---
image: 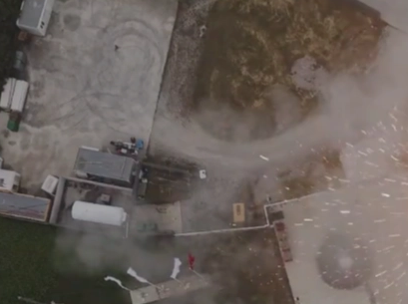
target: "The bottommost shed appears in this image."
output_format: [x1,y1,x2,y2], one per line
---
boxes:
[0,190,54,220]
